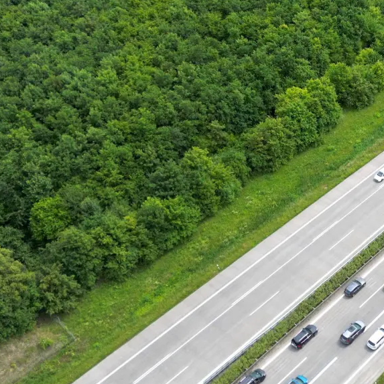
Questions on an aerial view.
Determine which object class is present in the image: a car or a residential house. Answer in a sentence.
The image shows a car.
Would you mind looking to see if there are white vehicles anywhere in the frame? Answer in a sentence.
Yes, the photo shows a white vehicle.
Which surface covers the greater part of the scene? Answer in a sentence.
What you mostly see from above here is trees.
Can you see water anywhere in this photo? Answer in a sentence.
No, there is no water in the image.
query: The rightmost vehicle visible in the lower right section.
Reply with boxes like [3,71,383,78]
[365,326,384,352]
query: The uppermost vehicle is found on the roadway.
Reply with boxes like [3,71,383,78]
[370,167,384,183]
